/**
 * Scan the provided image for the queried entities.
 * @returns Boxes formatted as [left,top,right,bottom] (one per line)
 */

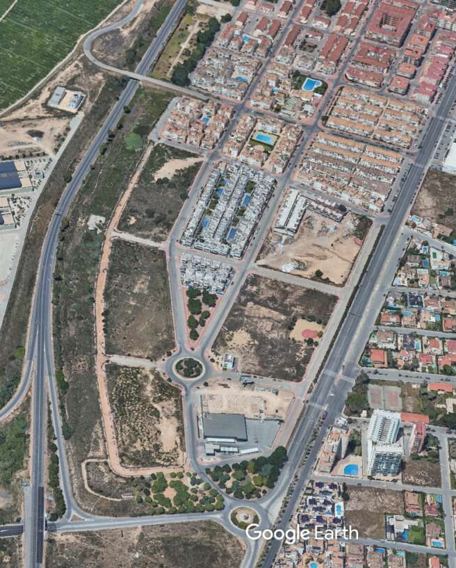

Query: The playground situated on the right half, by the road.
[289,318,324,341]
